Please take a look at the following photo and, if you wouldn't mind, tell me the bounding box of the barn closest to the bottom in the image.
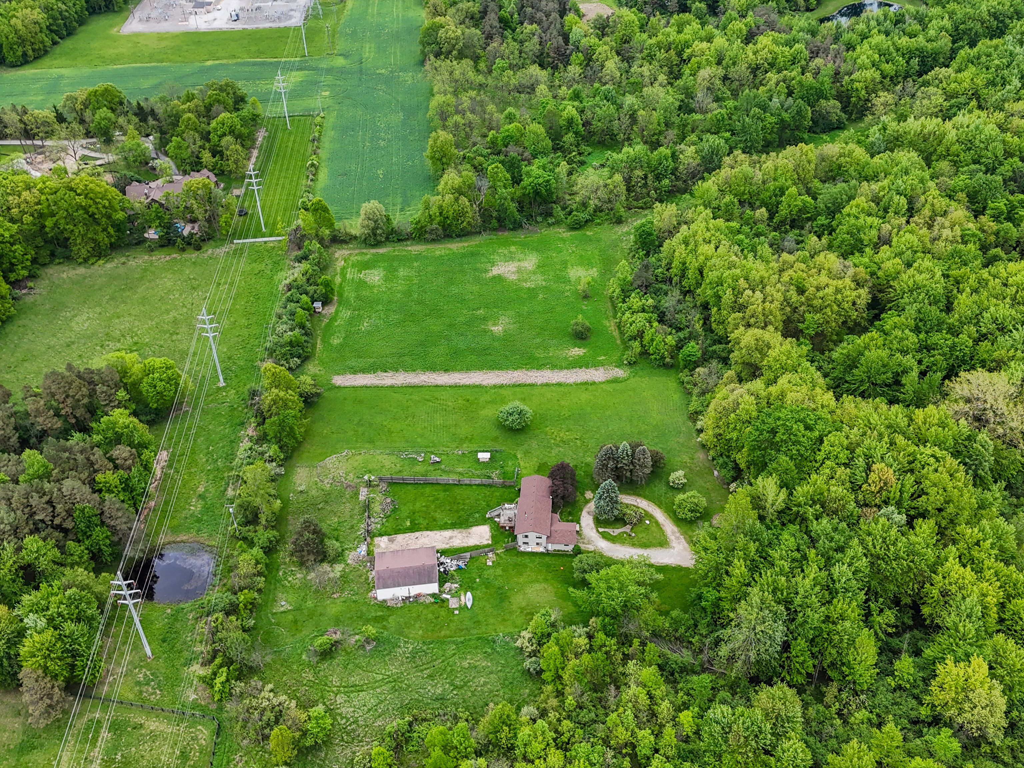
[374,545,439,599]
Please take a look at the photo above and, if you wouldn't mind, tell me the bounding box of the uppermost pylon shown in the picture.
[295,4,308,56]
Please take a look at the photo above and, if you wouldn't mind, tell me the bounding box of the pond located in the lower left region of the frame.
[133,543,216,603]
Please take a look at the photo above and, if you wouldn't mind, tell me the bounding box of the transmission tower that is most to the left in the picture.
[110,570,154,661]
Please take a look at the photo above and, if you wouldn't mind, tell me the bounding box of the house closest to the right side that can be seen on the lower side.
[514,475,576,553]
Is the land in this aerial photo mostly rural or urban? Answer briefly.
rural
